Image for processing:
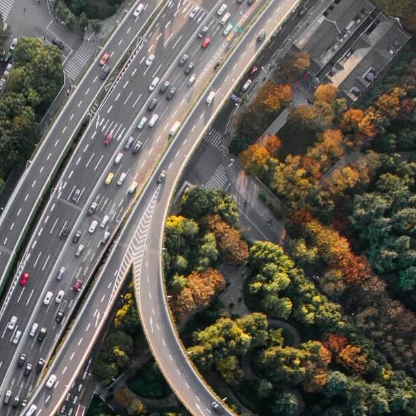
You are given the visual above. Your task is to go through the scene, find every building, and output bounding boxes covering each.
[321,11,412,101]
[290,0,375,73]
